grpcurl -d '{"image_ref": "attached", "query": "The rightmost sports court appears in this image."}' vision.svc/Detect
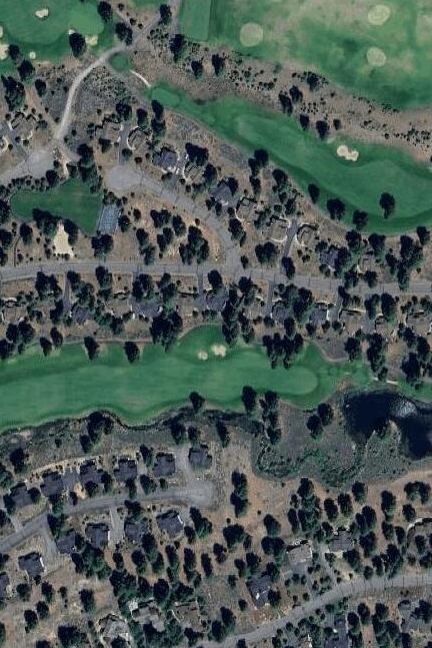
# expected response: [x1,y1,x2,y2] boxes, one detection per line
[98,205,120,234]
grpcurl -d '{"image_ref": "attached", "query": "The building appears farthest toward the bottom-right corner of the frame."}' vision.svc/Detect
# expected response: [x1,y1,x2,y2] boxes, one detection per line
[397,611,423,636]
